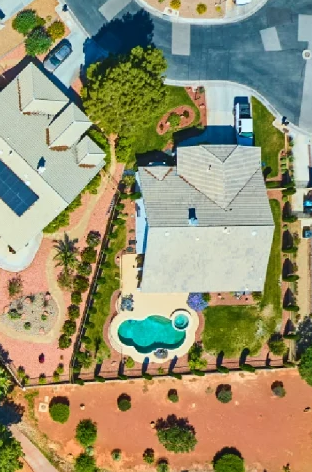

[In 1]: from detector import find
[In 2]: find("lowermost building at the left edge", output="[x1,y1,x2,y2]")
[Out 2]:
[0,62,107,246]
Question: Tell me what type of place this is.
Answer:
residential area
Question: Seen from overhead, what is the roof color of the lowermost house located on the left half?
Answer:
white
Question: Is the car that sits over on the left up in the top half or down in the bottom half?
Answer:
top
